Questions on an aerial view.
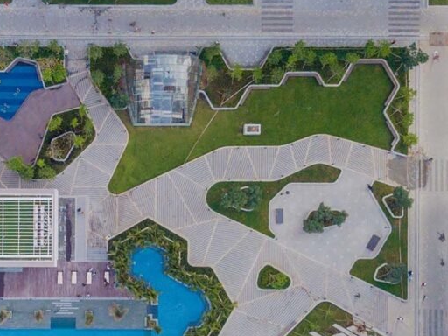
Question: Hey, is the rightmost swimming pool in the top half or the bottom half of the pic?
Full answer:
It is in the bottom half that the rightmost swimming pool appears.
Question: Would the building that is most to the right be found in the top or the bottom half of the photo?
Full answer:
Seen from above, the building that is most to the right lies in the top half of the view.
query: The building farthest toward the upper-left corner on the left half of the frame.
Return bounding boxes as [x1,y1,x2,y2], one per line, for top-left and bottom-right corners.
[126,54,201,125]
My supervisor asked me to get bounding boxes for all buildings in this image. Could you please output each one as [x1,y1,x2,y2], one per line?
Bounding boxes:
[126,54,201,125]
[0,189,58,271]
